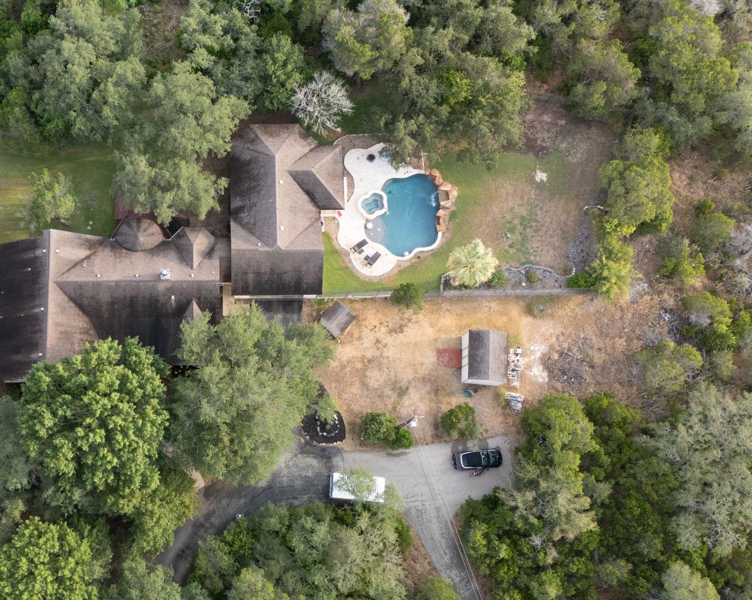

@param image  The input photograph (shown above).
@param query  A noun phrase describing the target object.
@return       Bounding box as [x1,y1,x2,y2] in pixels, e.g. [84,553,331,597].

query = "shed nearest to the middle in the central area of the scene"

[320,302,355,339]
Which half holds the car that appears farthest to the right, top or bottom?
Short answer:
bottom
